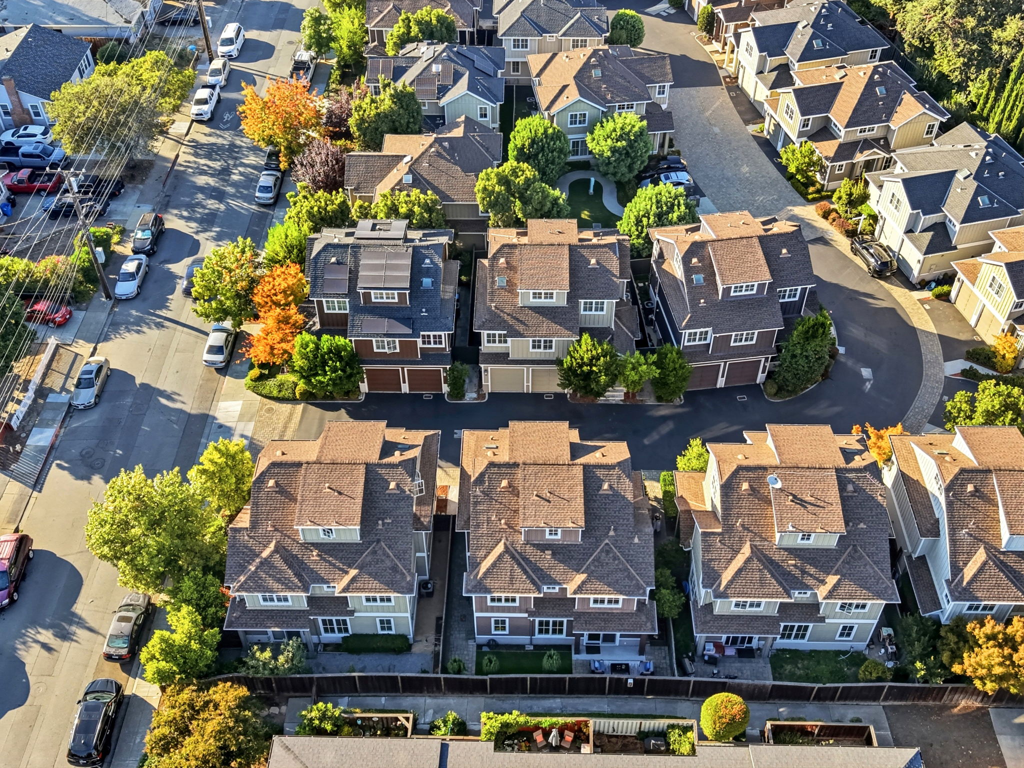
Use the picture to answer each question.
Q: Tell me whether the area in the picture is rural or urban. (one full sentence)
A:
The area is urban.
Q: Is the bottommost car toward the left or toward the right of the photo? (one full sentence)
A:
The bottommost car is on the left side of the image.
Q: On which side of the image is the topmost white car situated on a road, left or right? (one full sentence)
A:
It is on the left.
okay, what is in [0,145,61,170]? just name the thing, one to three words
truck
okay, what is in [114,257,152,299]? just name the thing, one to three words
car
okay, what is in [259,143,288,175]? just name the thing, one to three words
car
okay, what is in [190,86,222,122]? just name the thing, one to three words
truck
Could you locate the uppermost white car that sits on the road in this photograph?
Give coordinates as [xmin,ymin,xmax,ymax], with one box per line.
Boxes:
[219,25,246,58]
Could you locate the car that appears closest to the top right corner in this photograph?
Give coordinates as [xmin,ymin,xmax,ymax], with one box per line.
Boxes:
[847,240,903,278]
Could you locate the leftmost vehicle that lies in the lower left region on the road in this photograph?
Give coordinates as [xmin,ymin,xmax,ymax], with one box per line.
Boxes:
[0,535,38,607]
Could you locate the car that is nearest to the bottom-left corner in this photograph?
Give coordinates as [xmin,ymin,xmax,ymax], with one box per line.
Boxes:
[63,684,127,768]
